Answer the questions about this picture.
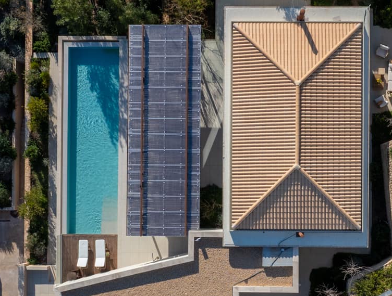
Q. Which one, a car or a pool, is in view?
pool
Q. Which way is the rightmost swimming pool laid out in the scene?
vertically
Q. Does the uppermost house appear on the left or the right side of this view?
right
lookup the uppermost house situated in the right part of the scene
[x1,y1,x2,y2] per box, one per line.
[223,4,370,248]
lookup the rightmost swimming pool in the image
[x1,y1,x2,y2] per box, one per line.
[62,42,119,235]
